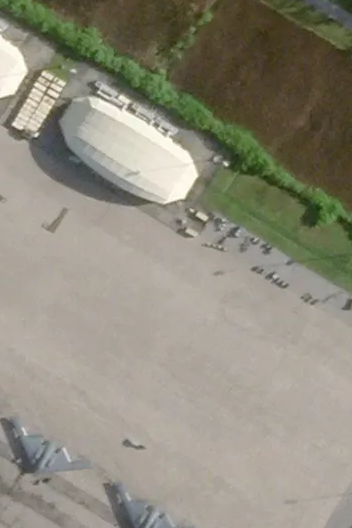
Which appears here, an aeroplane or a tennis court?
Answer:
aeroplane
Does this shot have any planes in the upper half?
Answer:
No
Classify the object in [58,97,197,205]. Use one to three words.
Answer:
hangar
